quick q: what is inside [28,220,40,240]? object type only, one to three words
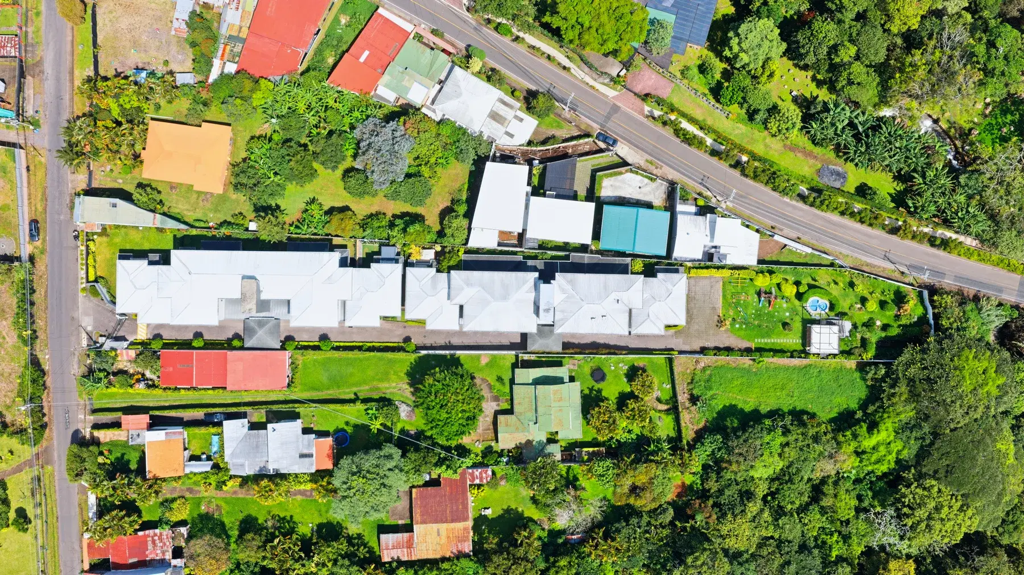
vehicle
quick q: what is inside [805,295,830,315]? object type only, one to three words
swimming pool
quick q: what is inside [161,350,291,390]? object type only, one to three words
house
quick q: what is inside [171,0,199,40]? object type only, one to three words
shed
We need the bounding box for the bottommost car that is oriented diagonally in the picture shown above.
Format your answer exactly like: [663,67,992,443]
[596,131,617,147]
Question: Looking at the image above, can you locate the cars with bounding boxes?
[596,131,617,147]
[205,413,226,423]
[28,220,40,240]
